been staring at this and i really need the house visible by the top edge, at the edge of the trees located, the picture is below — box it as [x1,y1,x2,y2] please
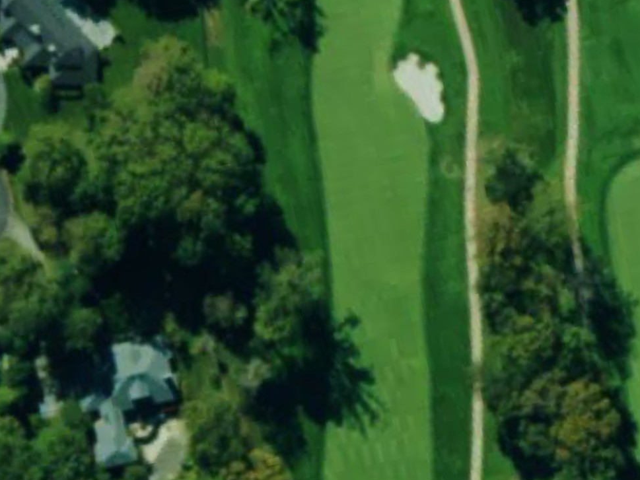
[0,0,97,86]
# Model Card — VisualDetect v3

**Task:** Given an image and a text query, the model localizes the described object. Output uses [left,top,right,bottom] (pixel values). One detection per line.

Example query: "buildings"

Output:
[75,345,173,466]
[0,0,97,86]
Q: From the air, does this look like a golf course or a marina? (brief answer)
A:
golf course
